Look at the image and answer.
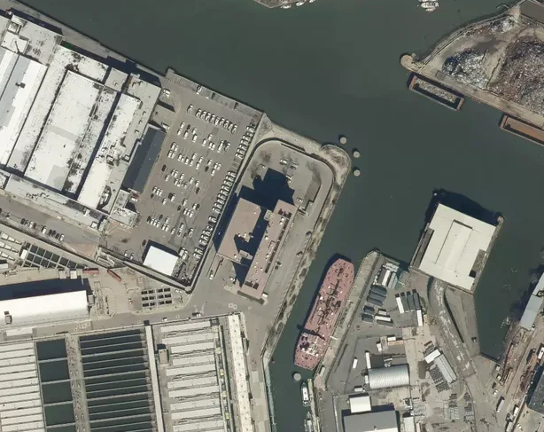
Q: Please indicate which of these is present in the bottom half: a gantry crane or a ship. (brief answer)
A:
ship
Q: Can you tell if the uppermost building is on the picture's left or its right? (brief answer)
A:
right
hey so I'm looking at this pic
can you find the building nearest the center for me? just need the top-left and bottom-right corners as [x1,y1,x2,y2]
[217,197,298,301]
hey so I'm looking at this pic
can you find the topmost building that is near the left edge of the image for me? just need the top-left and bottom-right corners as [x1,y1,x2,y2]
[0,17,161,232]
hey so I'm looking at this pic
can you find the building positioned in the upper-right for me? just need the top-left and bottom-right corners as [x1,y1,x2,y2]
[519,1,544,24]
